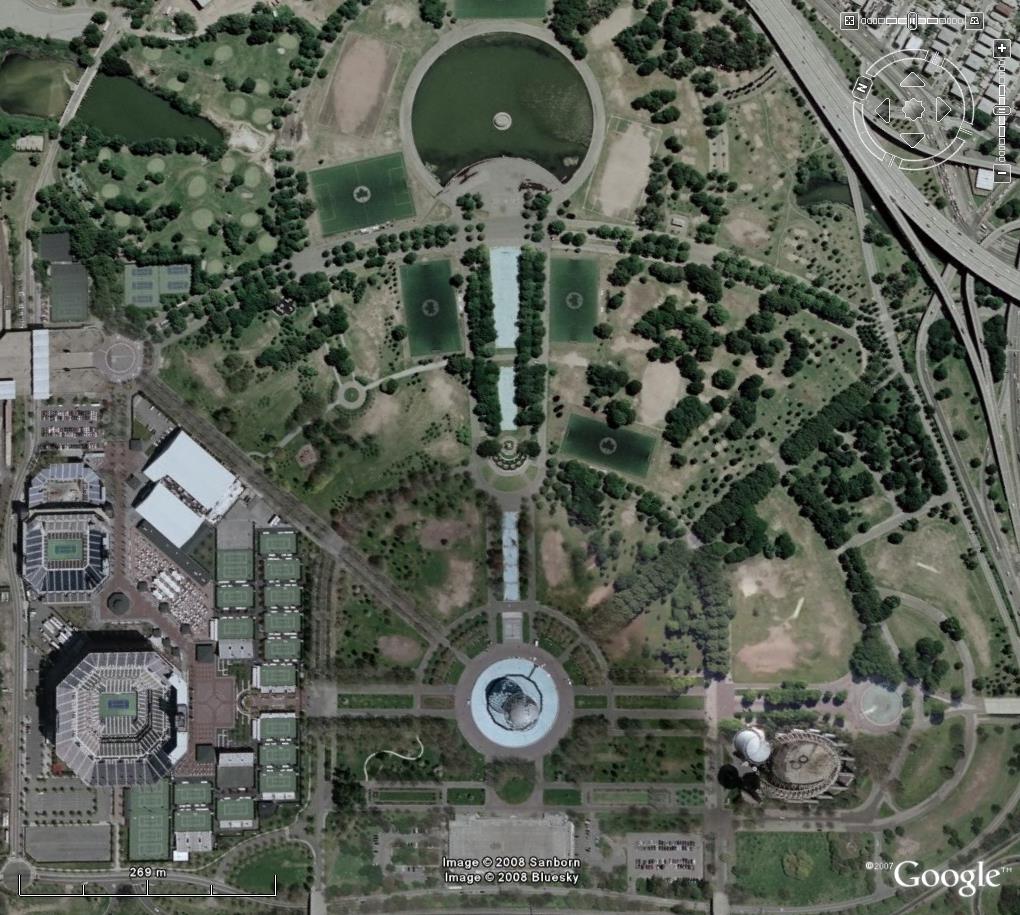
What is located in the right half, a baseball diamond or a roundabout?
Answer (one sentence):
Looking in the right half, you will find a baseball diamond.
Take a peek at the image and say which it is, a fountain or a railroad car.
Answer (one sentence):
The image shows a fountain.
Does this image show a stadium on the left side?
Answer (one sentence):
Yes, the scene does show a stadium on the left side.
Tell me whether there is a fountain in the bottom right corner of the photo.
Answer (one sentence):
Yes, there is a fountain in the bottom right corner of the photo.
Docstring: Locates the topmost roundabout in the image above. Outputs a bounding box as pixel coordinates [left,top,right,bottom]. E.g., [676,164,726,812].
[96,334,144,382]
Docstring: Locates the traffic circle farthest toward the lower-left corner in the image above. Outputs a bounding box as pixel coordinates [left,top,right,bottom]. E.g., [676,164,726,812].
[0,855,36,891]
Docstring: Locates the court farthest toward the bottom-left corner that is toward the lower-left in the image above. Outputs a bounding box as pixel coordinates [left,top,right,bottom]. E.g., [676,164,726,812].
[128,786,169,861]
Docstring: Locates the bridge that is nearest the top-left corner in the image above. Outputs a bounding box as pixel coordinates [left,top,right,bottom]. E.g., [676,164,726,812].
[57,50,103,132]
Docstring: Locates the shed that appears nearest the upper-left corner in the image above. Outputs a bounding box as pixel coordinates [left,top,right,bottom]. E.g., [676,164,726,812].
[14,136,44,150]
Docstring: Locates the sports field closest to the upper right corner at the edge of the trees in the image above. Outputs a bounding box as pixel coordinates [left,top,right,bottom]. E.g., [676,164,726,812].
[584,115,662,226]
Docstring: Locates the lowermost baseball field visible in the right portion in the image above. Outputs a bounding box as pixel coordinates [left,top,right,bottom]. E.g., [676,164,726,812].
[739,597,803,670]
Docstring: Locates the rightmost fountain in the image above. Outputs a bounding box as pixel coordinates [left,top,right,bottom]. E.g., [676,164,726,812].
[861,683,902,724]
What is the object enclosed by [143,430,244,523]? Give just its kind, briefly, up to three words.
building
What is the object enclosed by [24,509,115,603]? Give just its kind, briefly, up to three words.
stadium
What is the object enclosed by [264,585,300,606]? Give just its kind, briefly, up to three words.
tennis court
